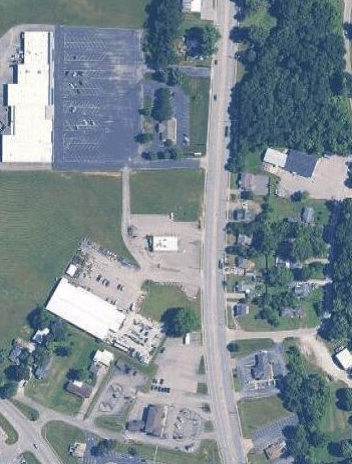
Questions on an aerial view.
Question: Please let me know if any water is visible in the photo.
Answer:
No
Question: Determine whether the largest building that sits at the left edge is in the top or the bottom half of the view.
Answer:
top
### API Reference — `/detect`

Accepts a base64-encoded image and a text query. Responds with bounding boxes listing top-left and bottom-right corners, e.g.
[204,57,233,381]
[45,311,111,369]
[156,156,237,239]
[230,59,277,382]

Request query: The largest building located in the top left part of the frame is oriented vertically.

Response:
[2,31,53,162]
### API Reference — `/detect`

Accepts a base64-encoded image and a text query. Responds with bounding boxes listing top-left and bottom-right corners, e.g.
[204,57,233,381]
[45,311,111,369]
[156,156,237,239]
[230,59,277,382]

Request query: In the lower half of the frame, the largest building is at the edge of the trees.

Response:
[47,277,125,340]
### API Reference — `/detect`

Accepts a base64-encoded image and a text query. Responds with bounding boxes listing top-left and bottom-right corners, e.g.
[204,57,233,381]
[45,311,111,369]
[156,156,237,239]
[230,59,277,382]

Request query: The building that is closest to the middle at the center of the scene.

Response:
[153,235,178,250]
